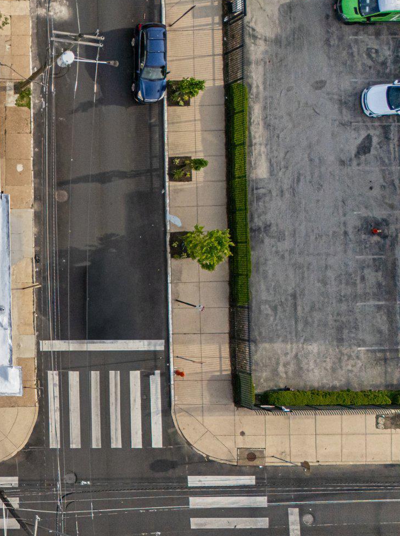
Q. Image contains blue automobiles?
Yes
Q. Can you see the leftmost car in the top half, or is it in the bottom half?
top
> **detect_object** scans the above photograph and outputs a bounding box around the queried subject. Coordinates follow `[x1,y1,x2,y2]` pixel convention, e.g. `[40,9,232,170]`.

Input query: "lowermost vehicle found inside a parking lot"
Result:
[359,79,400,116]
